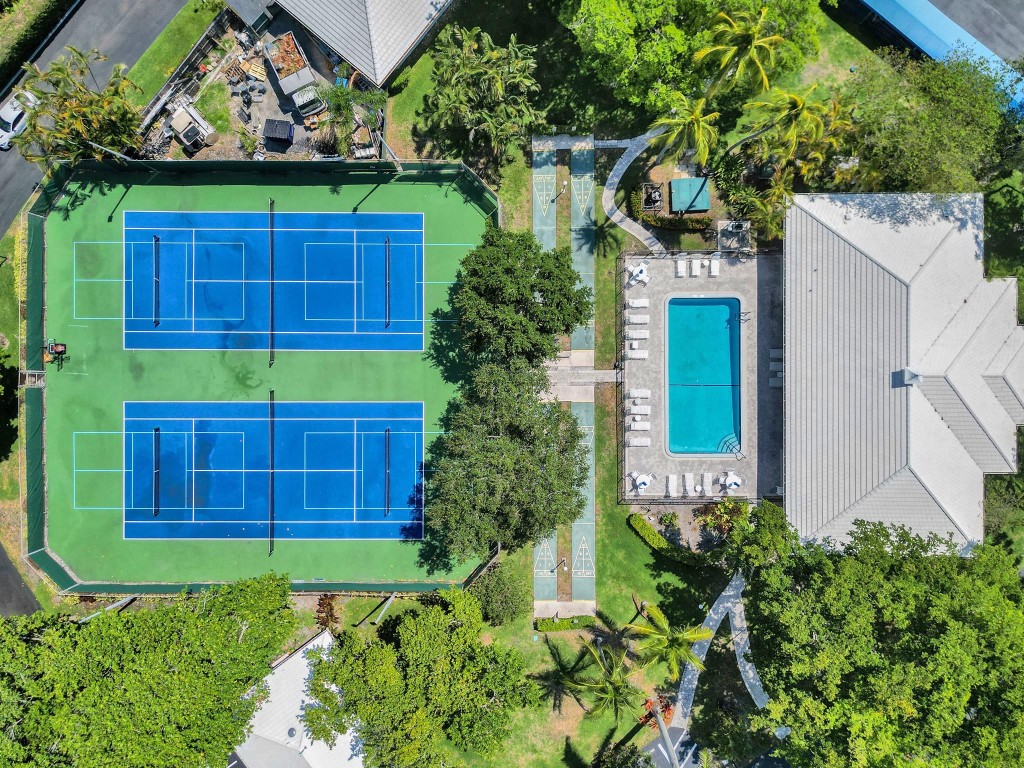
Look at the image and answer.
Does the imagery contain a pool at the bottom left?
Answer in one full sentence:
No, no pool is visible at the bottom left.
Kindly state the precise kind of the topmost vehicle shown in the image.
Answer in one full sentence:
I'd say the topmost vehicle is a truck.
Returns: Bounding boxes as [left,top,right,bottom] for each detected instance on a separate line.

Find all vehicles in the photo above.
[0,91,49,152]
[263,32,330,121]
[166,101,219,154]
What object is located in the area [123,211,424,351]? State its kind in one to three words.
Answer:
tennis court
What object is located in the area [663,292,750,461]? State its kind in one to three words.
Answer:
swimming pool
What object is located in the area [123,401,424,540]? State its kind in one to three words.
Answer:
tennis court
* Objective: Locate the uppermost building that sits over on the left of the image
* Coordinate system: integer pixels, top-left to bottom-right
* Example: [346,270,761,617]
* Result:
[276,0,461,90]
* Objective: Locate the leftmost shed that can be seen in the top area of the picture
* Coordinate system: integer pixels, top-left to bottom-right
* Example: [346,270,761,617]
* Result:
[262,117,298,149]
